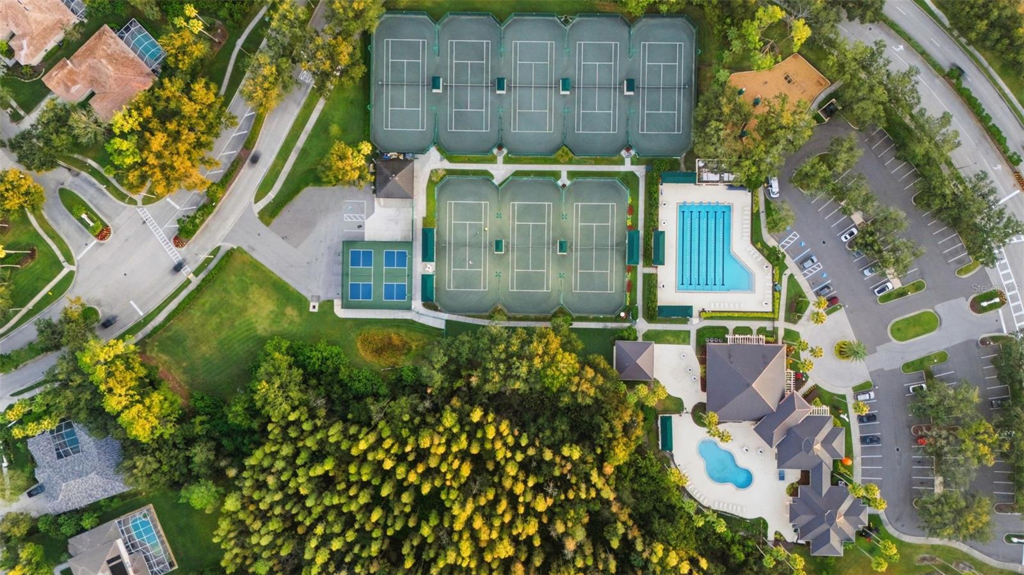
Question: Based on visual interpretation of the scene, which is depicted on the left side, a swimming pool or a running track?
swimming pool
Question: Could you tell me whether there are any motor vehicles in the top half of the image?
Yes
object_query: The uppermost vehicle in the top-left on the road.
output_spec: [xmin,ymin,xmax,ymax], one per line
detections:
[248,148,262,166]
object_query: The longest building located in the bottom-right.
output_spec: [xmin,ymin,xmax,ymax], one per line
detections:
[704,343,868,556]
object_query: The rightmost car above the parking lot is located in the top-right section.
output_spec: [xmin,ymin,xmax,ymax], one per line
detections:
[947,63,965,80]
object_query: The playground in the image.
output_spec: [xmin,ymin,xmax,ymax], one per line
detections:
[728,53,830,146]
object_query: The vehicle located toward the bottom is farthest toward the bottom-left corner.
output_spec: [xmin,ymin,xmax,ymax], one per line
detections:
[25,482,45,497]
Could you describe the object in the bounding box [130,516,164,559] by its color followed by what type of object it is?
blue swimming pool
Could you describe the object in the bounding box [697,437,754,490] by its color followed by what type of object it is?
blue swimming pool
